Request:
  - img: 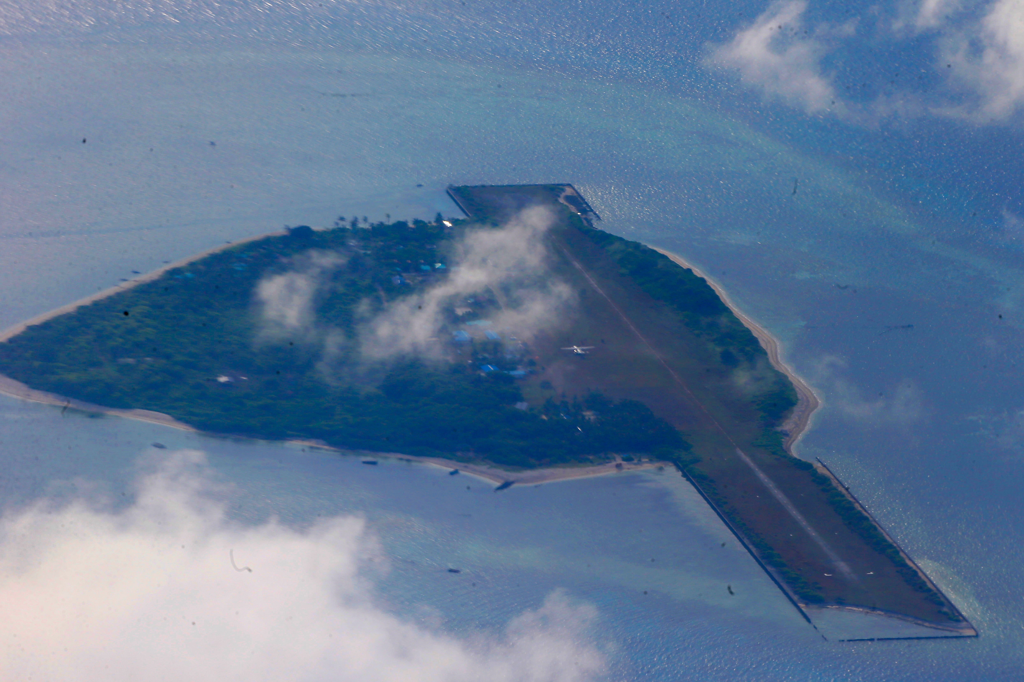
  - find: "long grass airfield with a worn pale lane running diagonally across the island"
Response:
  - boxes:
[457,190,951,628]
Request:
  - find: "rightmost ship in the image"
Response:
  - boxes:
[494,476,517,491]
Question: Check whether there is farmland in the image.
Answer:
No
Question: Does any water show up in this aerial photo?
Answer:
Yes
